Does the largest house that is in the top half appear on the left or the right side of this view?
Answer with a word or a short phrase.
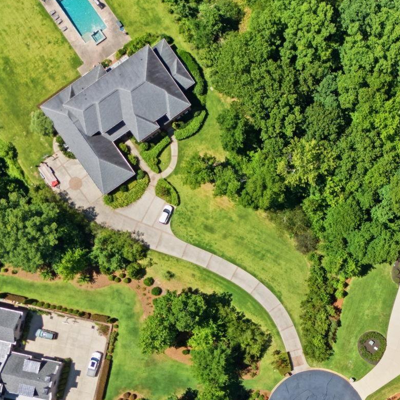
left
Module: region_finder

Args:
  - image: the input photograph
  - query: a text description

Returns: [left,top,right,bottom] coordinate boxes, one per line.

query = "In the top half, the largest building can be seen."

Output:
[40,38,195,195]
